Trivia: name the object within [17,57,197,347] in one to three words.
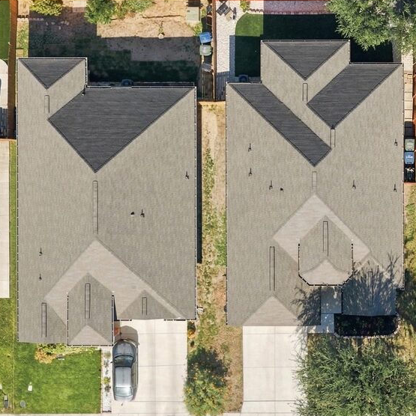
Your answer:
house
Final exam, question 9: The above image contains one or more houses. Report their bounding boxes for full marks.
[17,57,197,347]
[225,39,404,327]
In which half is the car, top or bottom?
bottom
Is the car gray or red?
gray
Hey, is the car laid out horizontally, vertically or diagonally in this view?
vertically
